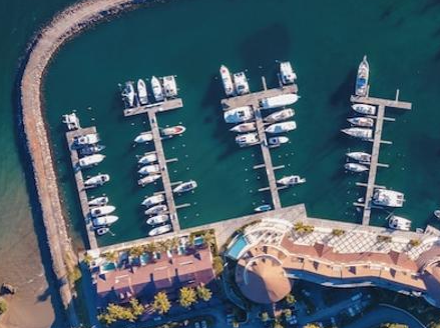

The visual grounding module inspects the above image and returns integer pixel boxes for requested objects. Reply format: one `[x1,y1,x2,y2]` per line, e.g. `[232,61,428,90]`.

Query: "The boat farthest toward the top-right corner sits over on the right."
[355,57,368,98]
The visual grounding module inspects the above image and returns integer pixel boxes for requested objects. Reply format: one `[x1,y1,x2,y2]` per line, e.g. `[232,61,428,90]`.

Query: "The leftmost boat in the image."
[64,112,78,130]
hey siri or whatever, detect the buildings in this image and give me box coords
[97,244,222,309]
[231,239,440,305]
